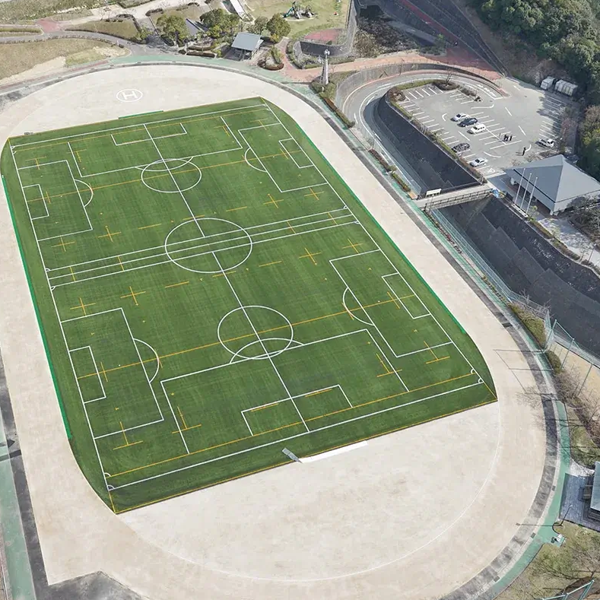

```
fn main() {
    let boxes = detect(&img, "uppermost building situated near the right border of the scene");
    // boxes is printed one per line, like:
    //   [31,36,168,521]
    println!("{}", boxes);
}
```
[502,154,600,224]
